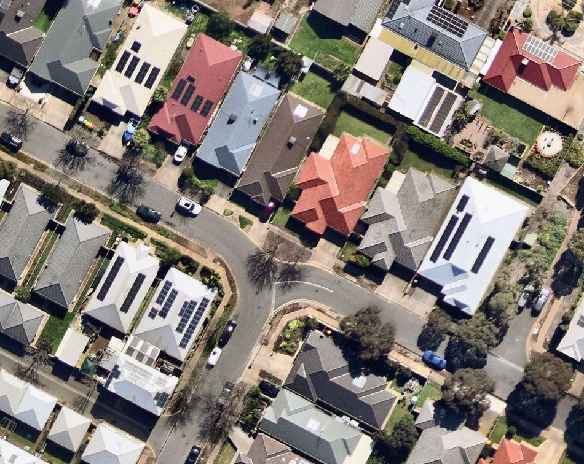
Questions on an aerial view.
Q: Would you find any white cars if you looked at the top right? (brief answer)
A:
No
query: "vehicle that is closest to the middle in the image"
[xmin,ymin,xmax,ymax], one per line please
[258,199,275,222]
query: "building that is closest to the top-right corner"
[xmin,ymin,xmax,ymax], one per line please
[484,25,584,129]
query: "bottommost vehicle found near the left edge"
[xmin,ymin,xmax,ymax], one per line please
[0,132,24,152]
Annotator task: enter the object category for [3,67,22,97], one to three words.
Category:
vehicle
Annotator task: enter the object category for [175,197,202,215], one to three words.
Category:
car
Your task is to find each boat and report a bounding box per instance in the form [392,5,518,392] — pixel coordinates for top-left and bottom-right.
[124,115,139,145]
